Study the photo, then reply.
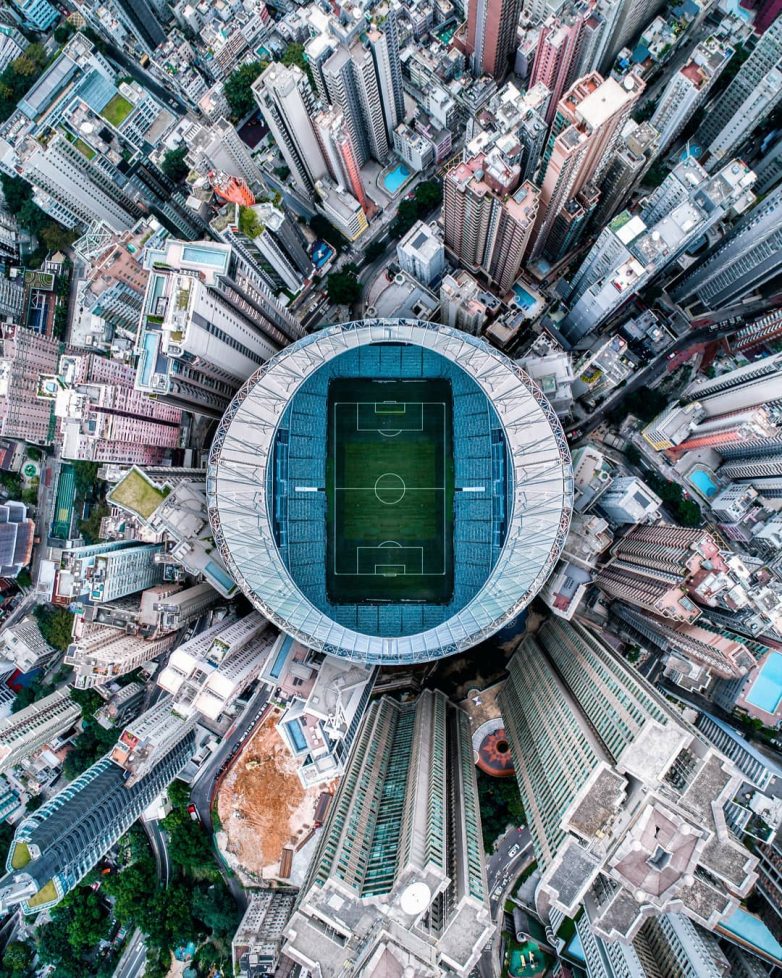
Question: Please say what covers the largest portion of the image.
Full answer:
The scene is dominated by buildings.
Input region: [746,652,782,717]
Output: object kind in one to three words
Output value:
swimming pool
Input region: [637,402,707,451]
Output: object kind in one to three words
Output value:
building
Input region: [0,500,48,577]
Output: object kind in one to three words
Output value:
building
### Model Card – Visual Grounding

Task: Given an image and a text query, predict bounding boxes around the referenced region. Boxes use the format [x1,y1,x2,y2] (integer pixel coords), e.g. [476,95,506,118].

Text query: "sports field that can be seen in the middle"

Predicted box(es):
[328,373,455,603]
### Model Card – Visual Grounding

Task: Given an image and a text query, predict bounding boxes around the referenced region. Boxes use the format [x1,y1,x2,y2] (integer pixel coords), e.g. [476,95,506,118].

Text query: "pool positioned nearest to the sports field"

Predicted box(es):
[268,636,293,679]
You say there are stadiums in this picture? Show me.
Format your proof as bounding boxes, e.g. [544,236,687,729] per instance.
[206,318,572,666]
